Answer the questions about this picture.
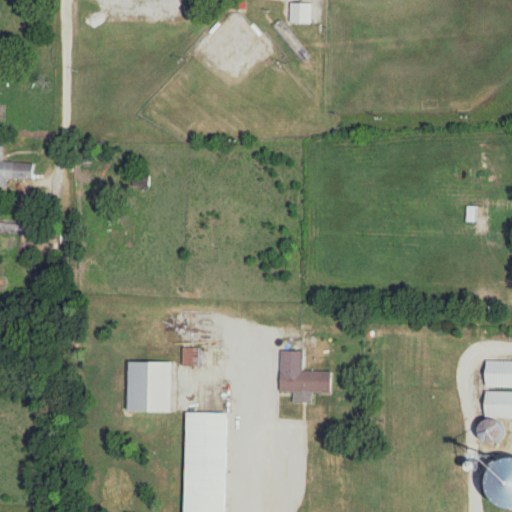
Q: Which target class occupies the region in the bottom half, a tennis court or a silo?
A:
silo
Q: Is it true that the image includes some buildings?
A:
Yes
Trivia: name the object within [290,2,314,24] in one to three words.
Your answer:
shed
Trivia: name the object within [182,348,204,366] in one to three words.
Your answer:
shed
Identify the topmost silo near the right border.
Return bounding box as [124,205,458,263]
[476,418,505,444]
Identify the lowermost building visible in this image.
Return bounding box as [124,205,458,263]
[186,412,228,512]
